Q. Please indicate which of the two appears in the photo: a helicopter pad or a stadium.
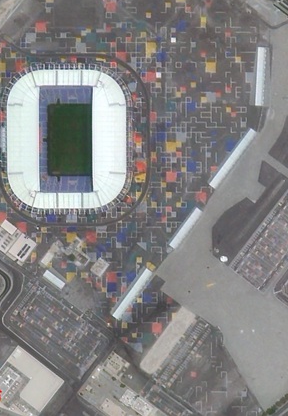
stadium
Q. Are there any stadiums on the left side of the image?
Yes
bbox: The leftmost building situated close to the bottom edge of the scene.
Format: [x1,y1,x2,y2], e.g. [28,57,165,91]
[0,368,20,401]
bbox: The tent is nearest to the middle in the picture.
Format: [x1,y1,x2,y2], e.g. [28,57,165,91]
[168,207,203,249]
